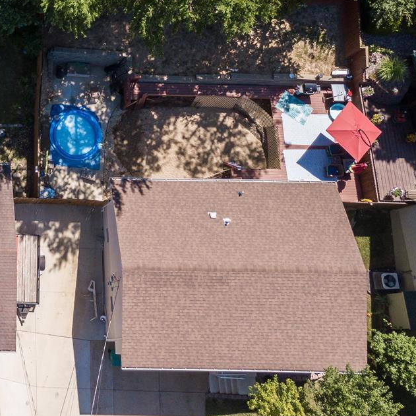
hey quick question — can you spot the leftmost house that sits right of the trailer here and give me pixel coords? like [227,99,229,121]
[100,178,370,374]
